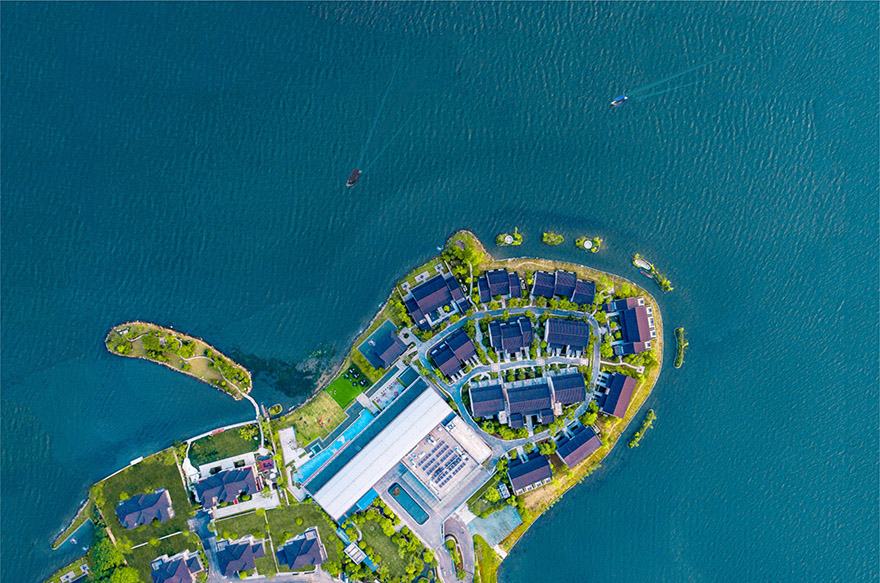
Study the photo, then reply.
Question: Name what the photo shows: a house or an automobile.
house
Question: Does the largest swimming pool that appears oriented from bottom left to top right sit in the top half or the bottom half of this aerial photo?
bottom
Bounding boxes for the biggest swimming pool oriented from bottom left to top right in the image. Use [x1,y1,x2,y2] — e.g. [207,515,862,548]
[293,403,375,485]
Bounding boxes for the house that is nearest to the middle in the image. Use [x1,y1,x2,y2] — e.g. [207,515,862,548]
[400,263,472,333]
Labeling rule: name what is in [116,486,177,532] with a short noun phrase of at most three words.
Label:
house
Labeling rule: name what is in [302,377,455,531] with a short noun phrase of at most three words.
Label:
building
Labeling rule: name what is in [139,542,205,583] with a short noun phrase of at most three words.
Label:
house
